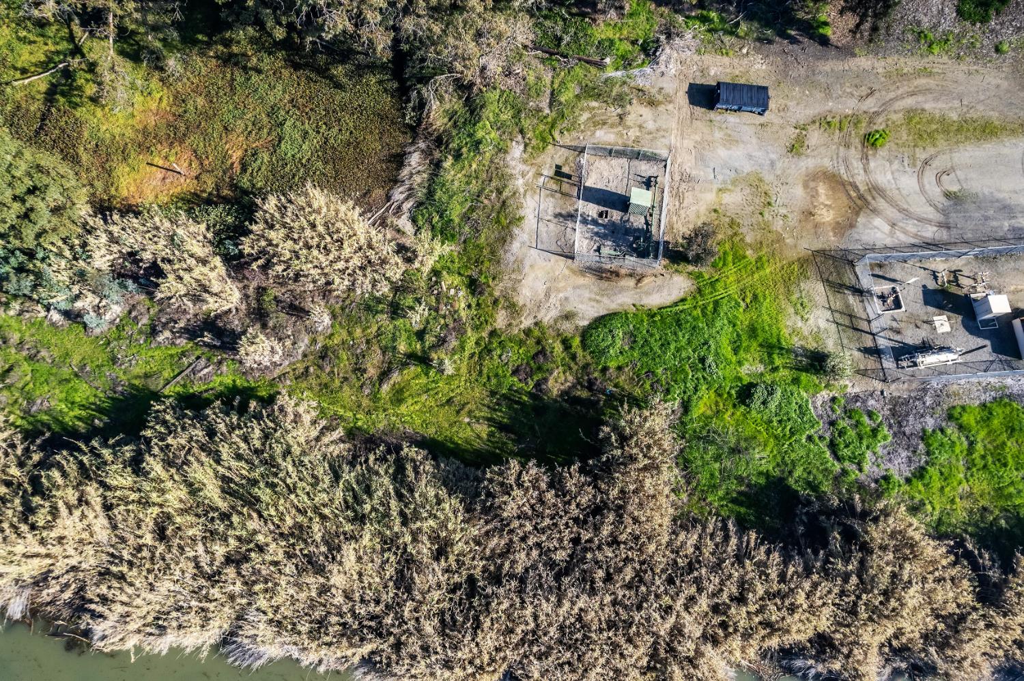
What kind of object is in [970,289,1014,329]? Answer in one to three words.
shed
